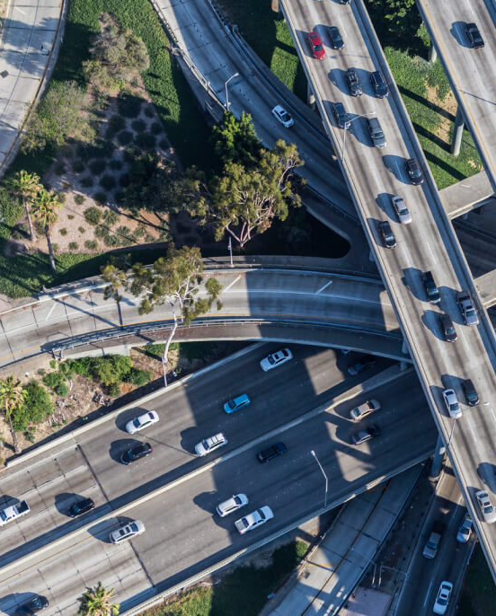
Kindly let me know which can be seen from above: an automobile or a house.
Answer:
automobile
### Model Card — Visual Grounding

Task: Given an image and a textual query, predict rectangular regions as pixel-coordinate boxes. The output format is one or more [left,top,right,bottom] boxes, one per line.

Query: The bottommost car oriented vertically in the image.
[434,582,452,615]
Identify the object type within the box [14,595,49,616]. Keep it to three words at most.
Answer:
car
